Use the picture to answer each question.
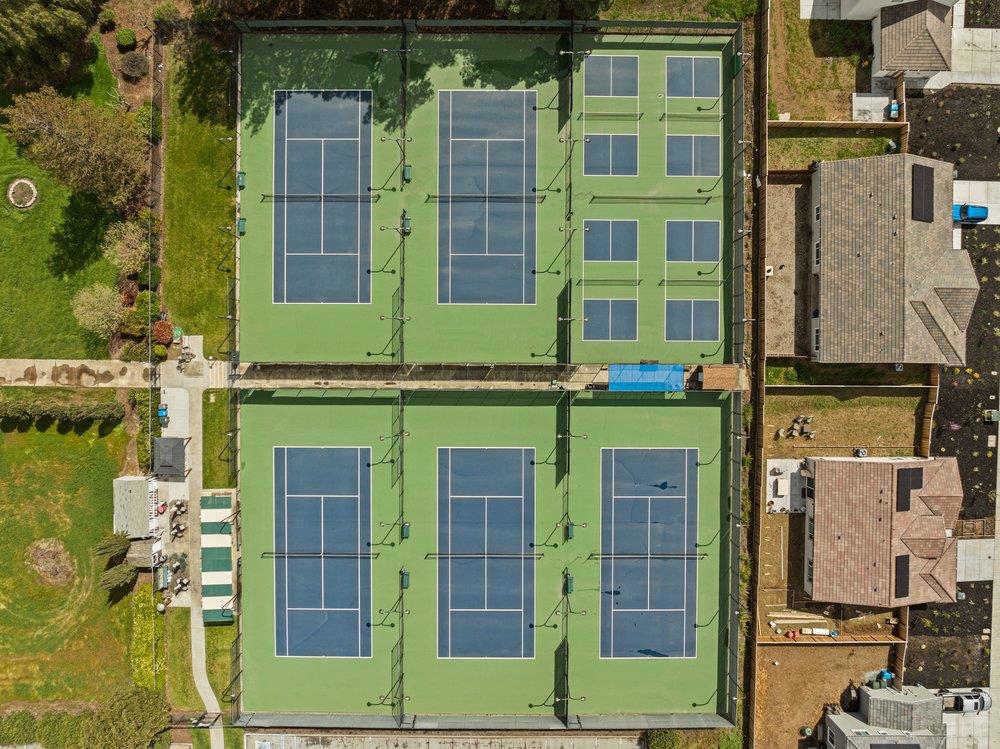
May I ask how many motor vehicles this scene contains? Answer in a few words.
two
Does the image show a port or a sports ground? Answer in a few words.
sports ground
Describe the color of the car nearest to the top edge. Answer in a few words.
blue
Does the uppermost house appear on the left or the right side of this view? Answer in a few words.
right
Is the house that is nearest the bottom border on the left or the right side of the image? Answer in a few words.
right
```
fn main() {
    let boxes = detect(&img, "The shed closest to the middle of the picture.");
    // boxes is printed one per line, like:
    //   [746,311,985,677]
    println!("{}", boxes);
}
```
[697,363,739,391]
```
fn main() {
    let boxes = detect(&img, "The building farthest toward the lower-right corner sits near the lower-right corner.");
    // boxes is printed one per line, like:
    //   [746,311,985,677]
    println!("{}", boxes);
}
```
[826,687,950,749]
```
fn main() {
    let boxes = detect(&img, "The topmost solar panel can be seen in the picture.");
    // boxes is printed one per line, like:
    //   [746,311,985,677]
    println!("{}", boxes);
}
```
[911,164,934,223]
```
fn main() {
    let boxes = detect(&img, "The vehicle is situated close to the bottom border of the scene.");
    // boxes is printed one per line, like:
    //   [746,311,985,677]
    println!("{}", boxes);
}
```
[935,689,987,715]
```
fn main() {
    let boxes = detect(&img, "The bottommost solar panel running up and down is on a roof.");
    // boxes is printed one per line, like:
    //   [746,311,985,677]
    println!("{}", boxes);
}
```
[895,555,909,598]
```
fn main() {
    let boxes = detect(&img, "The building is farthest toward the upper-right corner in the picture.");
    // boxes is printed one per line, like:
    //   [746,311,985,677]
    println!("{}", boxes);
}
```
[841,0,955,71]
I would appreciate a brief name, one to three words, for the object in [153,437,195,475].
gazebo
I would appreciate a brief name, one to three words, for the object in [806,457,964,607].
house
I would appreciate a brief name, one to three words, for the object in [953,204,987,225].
car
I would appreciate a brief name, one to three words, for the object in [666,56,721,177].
sports court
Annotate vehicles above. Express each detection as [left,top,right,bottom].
[953,204,987,225]
[935,689,987,715]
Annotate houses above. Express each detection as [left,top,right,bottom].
[806,457,964,607]
[826,687,950,749]
[812,152,980,366]
[841,0,955,71]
